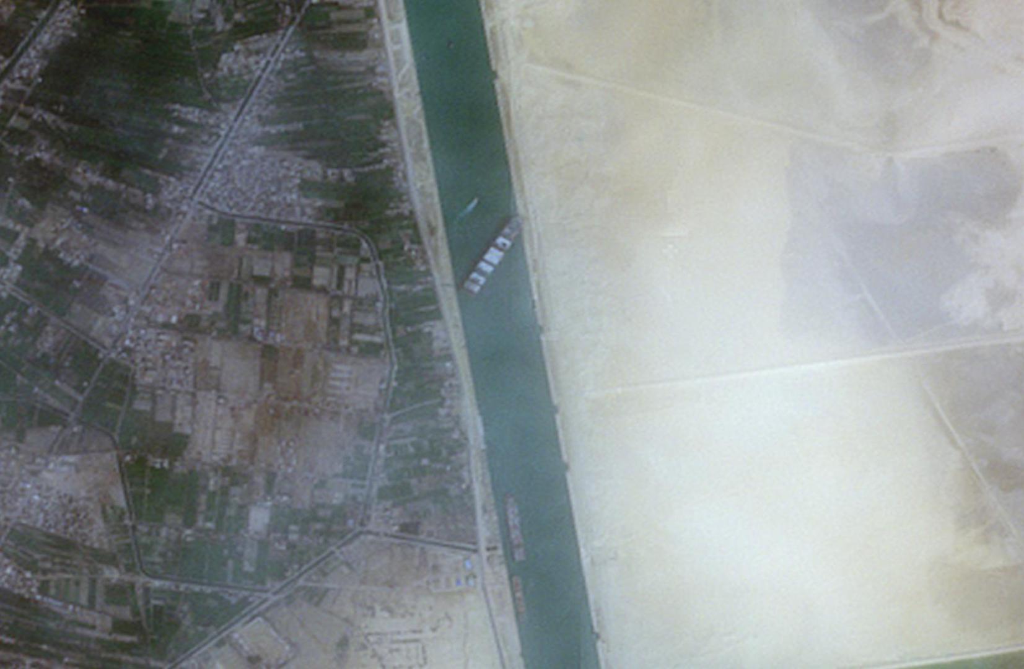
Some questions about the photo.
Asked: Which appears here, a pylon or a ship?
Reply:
ship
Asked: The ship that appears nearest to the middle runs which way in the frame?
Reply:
on a diagonal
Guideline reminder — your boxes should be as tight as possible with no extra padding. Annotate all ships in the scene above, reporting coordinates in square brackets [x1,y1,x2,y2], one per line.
[507,494,525,561]
[513,576,526,618]
[464,219,521,296]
